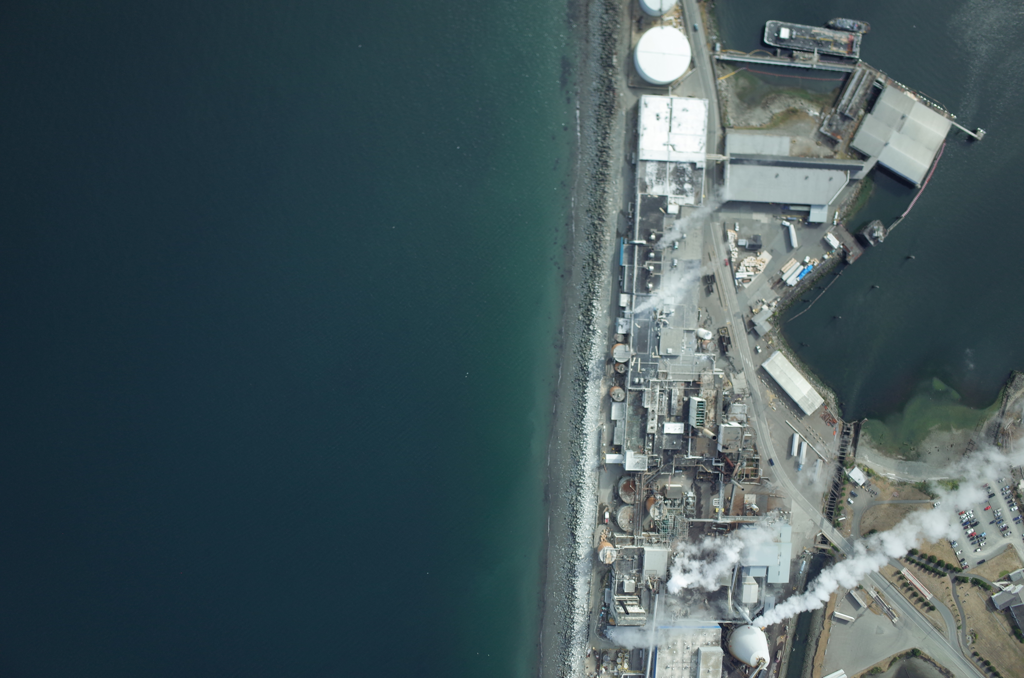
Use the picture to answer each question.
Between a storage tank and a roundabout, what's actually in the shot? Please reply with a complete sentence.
There is a storage tank in the scene.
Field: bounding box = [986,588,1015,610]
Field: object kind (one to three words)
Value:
building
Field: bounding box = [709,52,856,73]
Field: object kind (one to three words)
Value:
pier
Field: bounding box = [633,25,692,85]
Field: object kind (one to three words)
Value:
storage tank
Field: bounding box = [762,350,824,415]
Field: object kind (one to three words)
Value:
shed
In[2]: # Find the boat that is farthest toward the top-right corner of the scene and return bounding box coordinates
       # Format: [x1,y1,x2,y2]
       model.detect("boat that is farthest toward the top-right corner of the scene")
[826,18,870,34]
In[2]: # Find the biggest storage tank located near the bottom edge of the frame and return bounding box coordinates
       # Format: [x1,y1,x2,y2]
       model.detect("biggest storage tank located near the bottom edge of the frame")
[728,623,770,670]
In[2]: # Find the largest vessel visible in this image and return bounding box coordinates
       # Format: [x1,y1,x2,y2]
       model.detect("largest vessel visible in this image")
[763,19,862,59]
